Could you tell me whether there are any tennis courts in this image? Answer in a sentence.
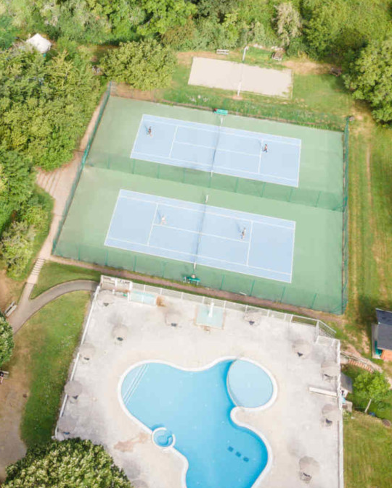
Yes, a tennis court appears in the view.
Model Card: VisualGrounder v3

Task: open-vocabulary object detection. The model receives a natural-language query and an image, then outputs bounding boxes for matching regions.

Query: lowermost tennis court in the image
[54,166,344,314]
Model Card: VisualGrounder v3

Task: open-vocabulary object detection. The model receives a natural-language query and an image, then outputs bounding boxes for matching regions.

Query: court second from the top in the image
[84,96,344,212]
